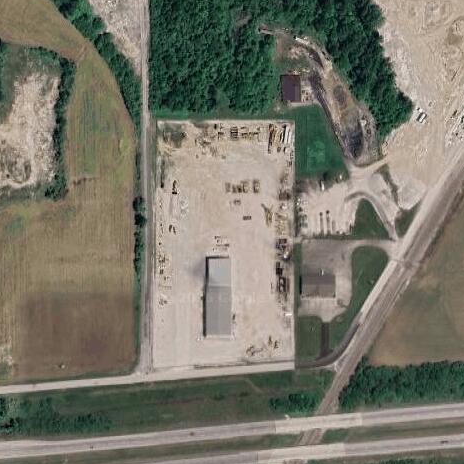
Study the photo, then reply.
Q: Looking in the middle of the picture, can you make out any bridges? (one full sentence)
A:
No, there's no bridge to be seen in the middle of the picture.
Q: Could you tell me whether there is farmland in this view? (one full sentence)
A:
Yes, farmland can be seen from above here.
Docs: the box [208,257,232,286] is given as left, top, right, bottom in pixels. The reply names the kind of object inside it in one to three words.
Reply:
building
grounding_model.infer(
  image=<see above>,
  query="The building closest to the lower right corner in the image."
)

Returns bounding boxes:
[302,269,336,298]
